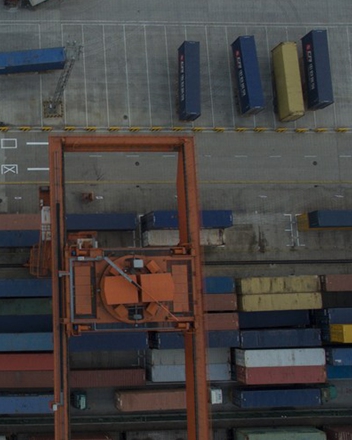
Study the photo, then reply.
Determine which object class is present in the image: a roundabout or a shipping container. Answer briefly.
shipping container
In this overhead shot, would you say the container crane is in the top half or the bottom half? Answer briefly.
bottom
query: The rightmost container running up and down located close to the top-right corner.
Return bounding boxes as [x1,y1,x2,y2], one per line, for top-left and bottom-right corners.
[301,30,333,109]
